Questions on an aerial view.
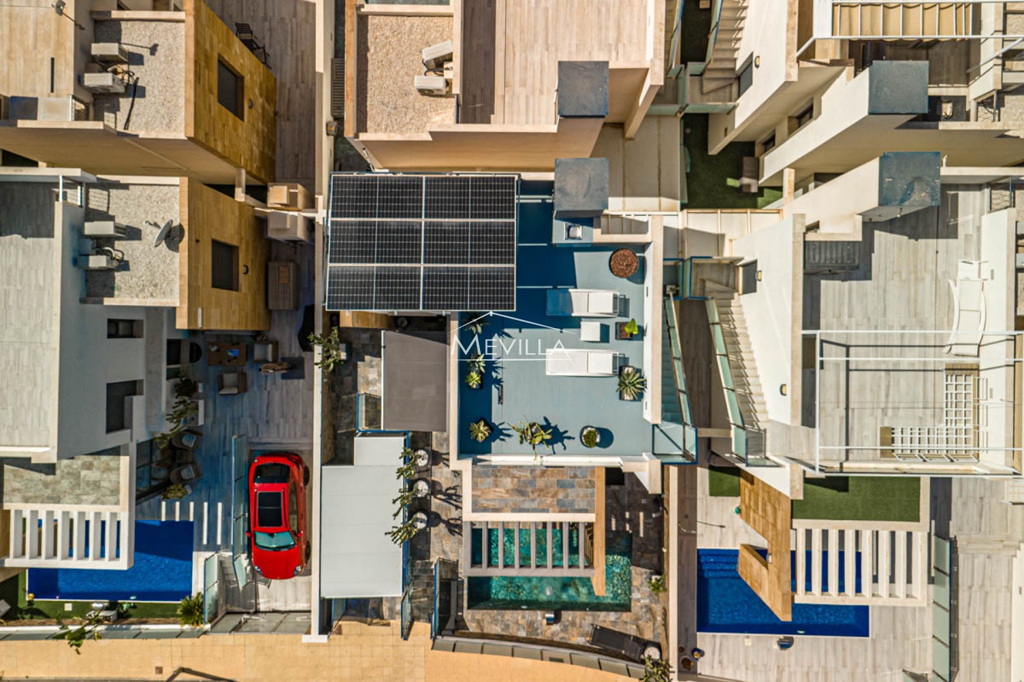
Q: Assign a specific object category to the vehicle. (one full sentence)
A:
The vehicle can be classified as a car.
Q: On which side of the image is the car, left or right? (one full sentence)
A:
The car appears in the left half of the scene.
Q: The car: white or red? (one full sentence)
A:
From above, the car appears red.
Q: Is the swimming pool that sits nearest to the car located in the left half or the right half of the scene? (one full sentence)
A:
The swimming pool that sits nearest to the car is on the left side of the image.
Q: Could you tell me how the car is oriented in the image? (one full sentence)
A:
I'd say the car is aligned from top to bottom in the picture.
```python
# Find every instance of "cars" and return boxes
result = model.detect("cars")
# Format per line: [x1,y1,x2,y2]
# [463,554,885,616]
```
[244,451,309,578]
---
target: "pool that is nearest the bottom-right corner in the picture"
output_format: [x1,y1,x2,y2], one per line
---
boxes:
[698,550,869,637]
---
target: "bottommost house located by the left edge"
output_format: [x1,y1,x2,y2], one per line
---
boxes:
[0,168,270,569]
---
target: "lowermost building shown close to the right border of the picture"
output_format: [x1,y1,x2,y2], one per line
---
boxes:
[683,151,1024,621]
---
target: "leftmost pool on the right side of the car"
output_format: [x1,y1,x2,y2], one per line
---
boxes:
[468,529,631,604]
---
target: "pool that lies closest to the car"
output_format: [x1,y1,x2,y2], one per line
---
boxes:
[27,519,191,602]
